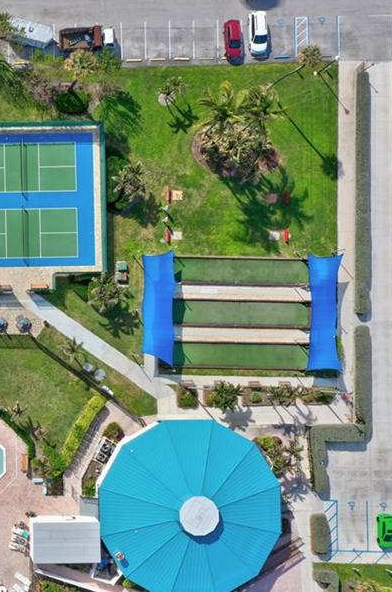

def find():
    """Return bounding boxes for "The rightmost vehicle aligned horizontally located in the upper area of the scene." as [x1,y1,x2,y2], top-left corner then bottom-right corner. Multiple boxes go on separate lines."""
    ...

[53,26,118,52]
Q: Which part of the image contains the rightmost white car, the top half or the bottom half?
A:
top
